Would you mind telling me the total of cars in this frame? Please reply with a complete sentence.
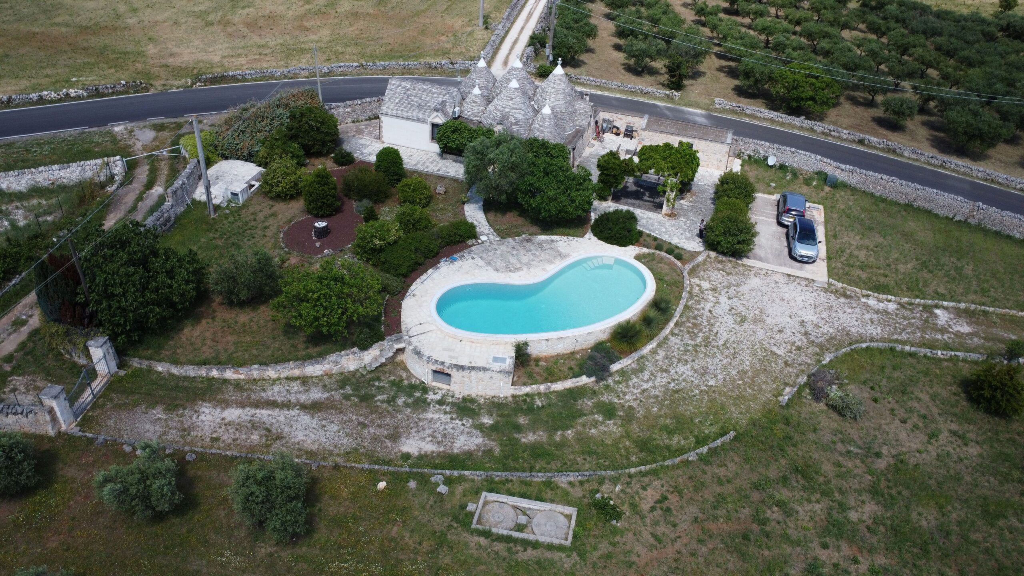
The number of cars here is 2.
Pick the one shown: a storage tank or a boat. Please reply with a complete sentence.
It is a storage tank that can be seen here.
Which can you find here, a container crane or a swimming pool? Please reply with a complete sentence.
Of the two, only a swimming pool appears.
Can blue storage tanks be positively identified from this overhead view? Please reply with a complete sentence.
No, the photo shows no blue storage tank.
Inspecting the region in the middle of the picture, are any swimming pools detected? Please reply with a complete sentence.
Yes, I can see a swimming pool in the middle of the picture.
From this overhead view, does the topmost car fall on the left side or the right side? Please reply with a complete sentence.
It is on the right.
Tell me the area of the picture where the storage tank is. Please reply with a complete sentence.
The storage tank is located in the bottom region of the scene.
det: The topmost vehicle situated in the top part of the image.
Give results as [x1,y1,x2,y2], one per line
[773,193,806,222]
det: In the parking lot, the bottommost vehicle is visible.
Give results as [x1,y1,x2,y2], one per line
[781,215,819,256]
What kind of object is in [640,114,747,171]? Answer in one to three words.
shed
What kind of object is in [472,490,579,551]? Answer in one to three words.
storage tank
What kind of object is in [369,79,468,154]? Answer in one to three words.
house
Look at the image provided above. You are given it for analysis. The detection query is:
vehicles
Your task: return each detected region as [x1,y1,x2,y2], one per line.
[773,193,806,222]
[781,215,819,256]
